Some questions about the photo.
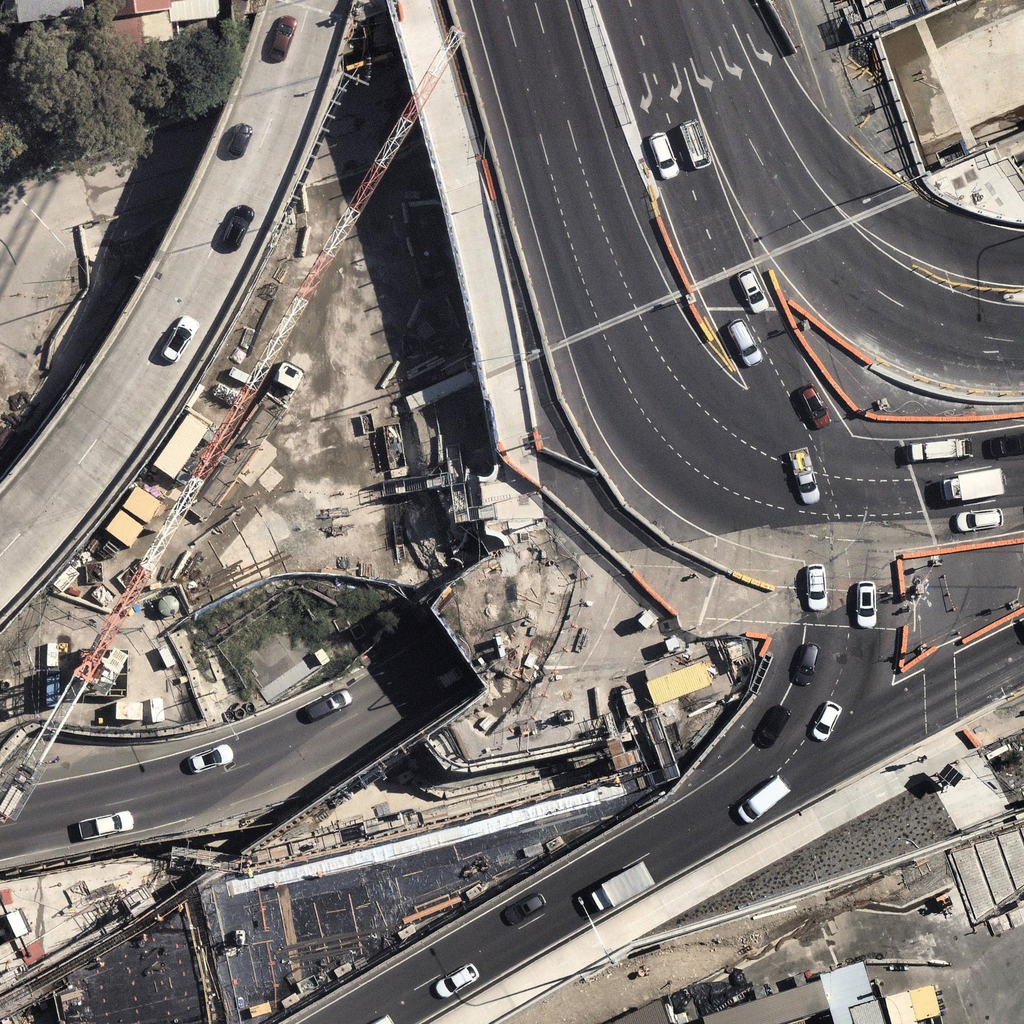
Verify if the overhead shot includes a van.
Yes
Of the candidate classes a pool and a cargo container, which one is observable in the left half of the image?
cargo container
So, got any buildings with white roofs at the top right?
Yes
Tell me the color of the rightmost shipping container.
yellow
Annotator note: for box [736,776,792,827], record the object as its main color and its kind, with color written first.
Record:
white van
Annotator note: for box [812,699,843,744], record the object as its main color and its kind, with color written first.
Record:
white car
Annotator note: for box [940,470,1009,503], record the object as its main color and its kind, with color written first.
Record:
white truck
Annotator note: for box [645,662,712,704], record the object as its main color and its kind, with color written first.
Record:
yellow shipping container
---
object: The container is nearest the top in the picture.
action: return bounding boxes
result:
[157,414,208,477]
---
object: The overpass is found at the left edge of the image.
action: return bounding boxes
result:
[0,0,353,630]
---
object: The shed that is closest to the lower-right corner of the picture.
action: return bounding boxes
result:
[909,984,940,1021]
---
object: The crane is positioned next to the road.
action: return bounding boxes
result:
[0,29,463,820]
